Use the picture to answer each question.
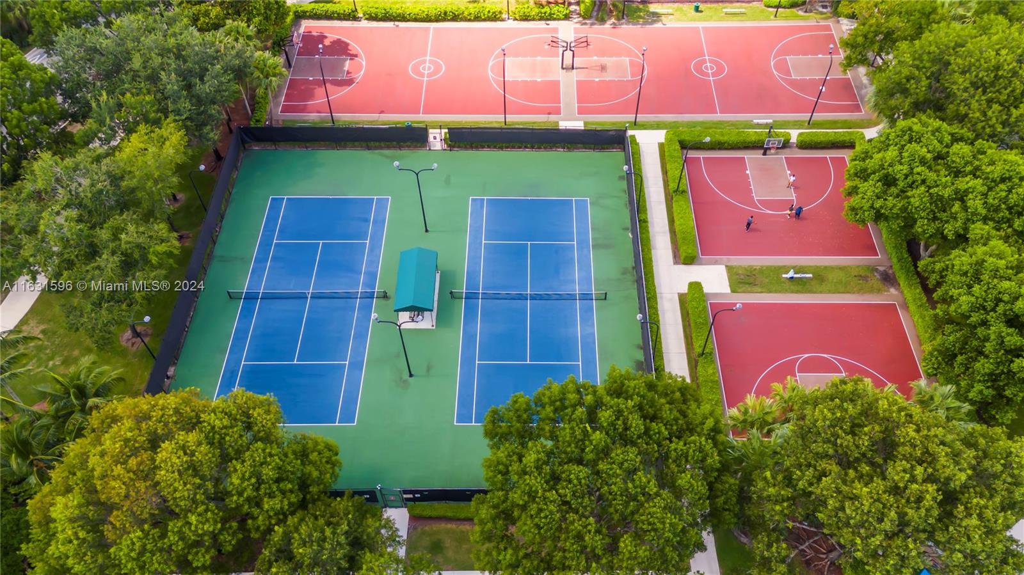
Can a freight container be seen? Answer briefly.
No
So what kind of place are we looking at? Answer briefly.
sports ground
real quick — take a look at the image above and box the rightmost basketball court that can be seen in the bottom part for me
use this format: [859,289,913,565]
[709,301,944,440]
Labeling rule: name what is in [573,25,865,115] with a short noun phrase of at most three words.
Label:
basketball court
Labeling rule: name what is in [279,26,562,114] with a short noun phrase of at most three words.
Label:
basketball court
